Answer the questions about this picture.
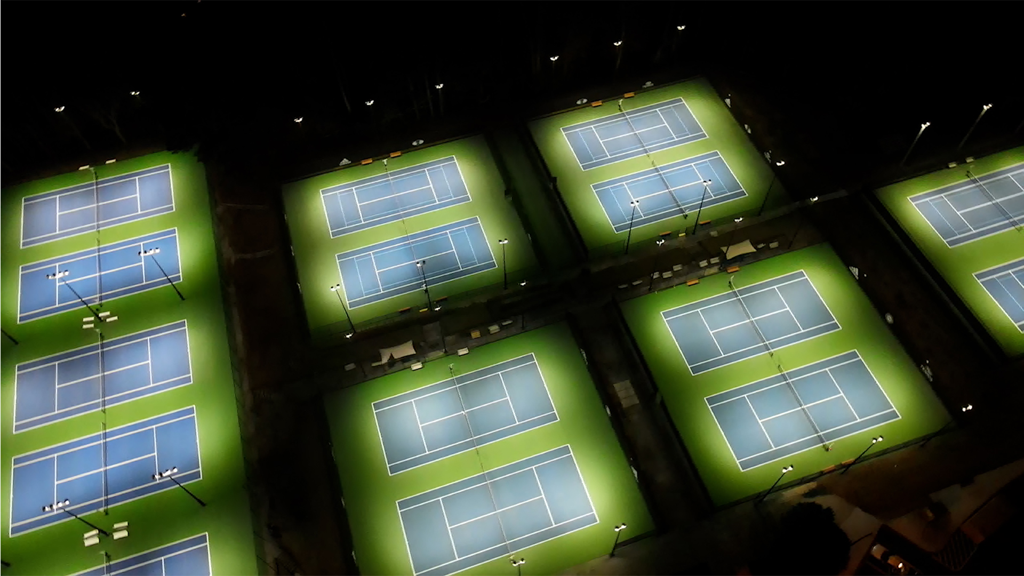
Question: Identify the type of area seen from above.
sports ground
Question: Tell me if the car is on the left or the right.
right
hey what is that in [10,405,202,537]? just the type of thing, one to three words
tennis court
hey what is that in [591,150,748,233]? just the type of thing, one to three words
tennis court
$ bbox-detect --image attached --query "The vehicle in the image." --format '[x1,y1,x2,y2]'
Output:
[872,543,913,576]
